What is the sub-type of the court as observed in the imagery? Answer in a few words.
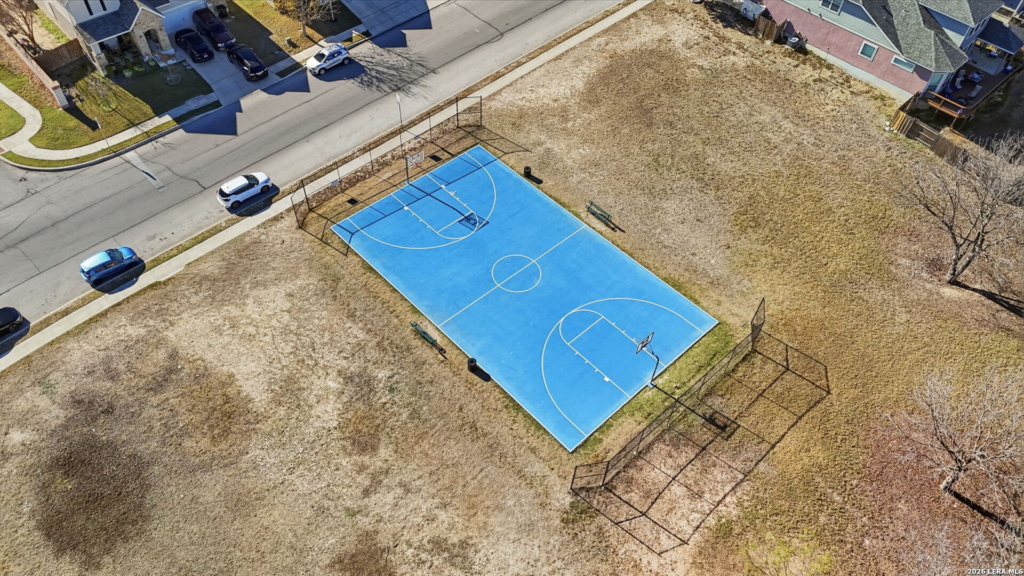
basketball court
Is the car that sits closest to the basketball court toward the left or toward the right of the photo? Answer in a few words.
left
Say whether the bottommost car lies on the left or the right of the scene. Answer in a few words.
left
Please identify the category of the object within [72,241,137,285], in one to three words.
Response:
car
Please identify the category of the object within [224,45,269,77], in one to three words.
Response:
car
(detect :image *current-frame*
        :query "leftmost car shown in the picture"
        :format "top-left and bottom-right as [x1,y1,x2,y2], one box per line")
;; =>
[0,303,26,335]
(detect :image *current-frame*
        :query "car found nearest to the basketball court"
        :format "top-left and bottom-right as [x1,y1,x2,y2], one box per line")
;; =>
[213,171,271,210]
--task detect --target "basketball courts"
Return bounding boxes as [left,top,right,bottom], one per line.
[331,145,718,452]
